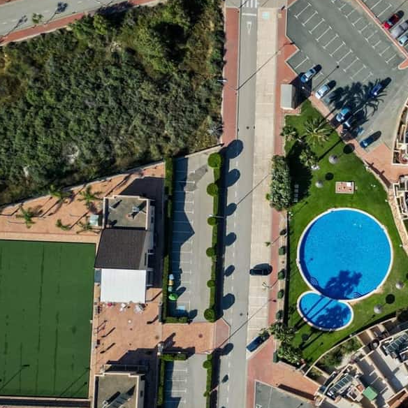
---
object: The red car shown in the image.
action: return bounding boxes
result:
[382,13,398,29]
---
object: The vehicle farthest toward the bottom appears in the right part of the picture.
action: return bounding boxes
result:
[249,332,267,348]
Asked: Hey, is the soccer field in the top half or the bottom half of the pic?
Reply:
bottom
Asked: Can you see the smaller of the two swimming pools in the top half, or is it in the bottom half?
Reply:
bottom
